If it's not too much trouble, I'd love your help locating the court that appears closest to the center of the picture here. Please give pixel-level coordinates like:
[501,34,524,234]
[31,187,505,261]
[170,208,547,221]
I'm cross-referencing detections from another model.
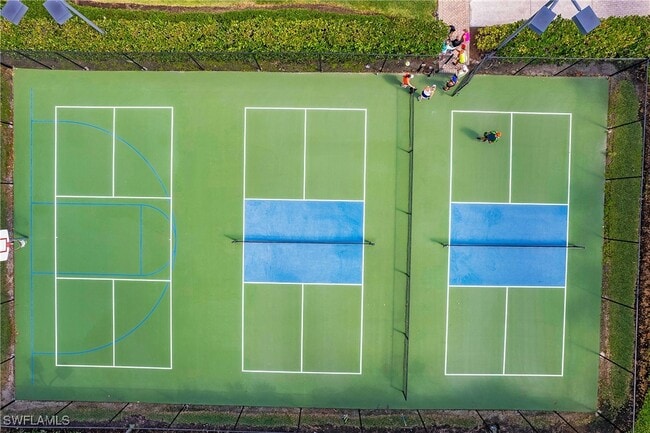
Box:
[242,107,367,375]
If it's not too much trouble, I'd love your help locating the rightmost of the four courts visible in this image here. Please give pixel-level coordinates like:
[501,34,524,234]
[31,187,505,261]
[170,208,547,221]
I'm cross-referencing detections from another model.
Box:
[445,110,572,376]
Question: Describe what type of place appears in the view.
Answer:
sports ground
